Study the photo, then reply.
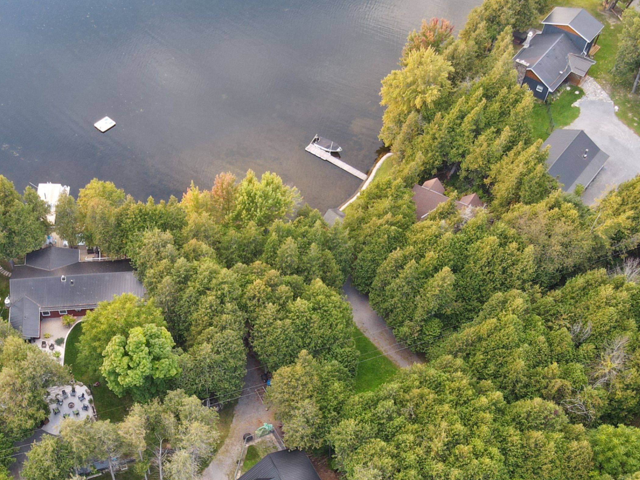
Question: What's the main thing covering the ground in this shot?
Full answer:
The bulk of the photo consists of trees.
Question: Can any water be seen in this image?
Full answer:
Yes, some water is visible.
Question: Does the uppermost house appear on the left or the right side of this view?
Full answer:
You can find the uppermost house on the right side of the picture.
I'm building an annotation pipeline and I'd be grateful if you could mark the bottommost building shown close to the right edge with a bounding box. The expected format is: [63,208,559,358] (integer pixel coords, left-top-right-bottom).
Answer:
[544,128,614,205]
